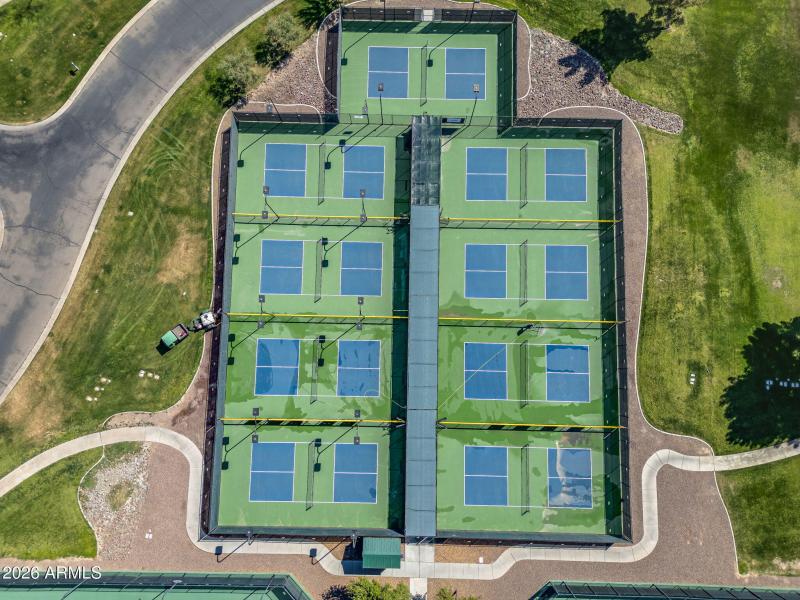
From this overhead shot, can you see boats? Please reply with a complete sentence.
No, there's no boat here.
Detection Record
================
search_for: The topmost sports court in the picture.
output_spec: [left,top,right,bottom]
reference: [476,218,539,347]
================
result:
[340,20,512,127]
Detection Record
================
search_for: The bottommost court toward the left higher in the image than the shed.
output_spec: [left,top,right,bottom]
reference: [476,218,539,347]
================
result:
[221,418,406,530]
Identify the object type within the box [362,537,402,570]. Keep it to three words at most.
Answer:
shed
